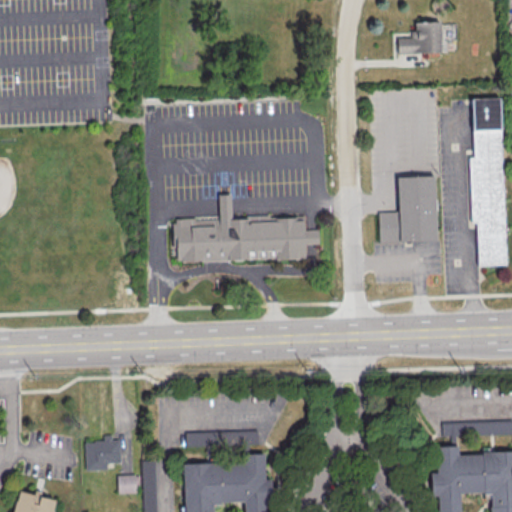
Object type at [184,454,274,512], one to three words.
building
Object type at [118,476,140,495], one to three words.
building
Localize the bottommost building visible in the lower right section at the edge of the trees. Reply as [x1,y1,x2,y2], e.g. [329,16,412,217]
[434,447,512,512]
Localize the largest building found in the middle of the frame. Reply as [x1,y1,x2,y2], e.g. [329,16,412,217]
[175,190,320,264]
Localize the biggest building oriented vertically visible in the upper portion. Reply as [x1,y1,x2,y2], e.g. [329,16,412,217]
[470,98,509,268]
